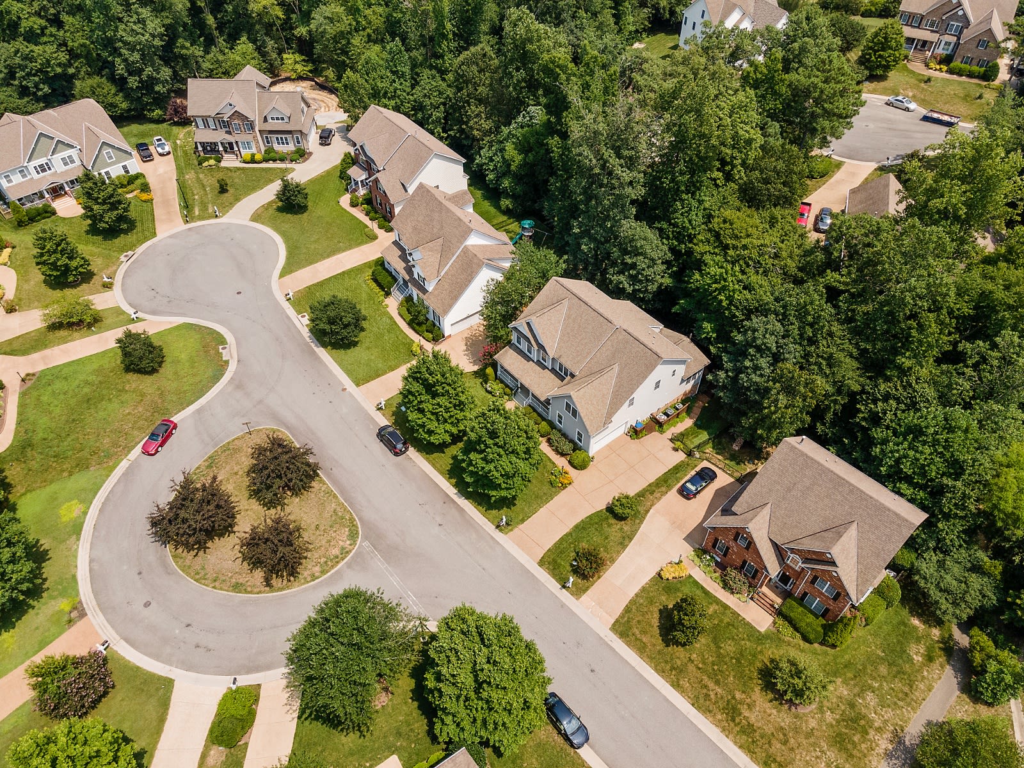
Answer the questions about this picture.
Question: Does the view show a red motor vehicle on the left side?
Yes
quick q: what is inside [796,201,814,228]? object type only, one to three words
vehicle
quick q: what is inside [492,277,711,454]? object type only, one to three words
house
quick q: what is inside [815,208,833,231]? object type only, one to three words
car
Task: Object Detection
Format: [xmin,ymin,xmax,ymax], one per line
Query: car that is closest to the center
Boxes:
[375,425,411,460]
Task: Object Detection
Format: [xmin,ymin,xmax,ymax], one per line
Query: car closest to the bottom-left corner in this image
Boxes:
[142,419,177,457]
